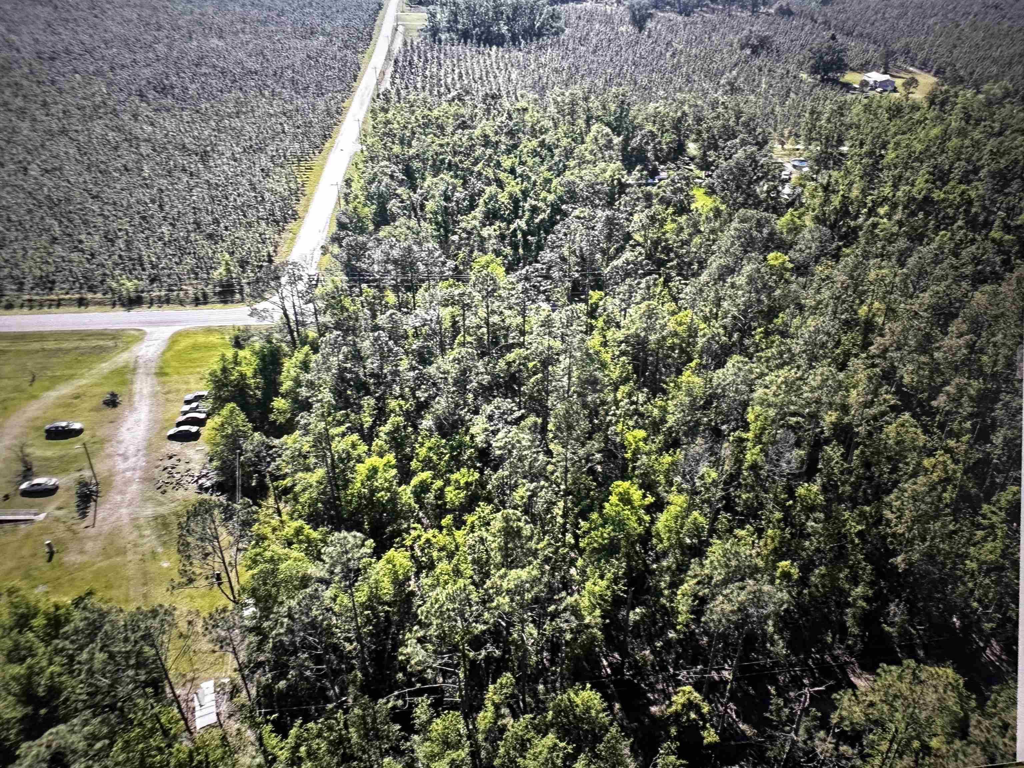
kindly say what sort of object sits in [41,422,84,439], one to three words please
car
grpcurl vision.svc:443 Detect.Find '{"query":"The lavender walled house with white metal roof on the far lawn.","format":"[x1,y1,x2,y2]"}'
[850,74,901,91]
